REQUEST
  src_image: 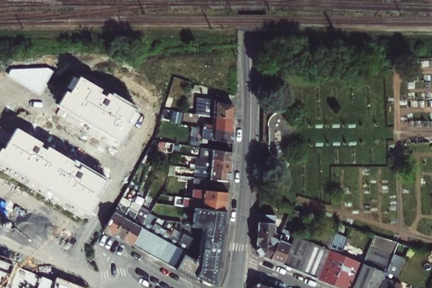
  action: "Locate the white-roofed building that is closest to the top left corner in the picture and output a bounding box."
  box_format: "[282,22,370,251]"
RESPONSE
[8,68,53,95]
